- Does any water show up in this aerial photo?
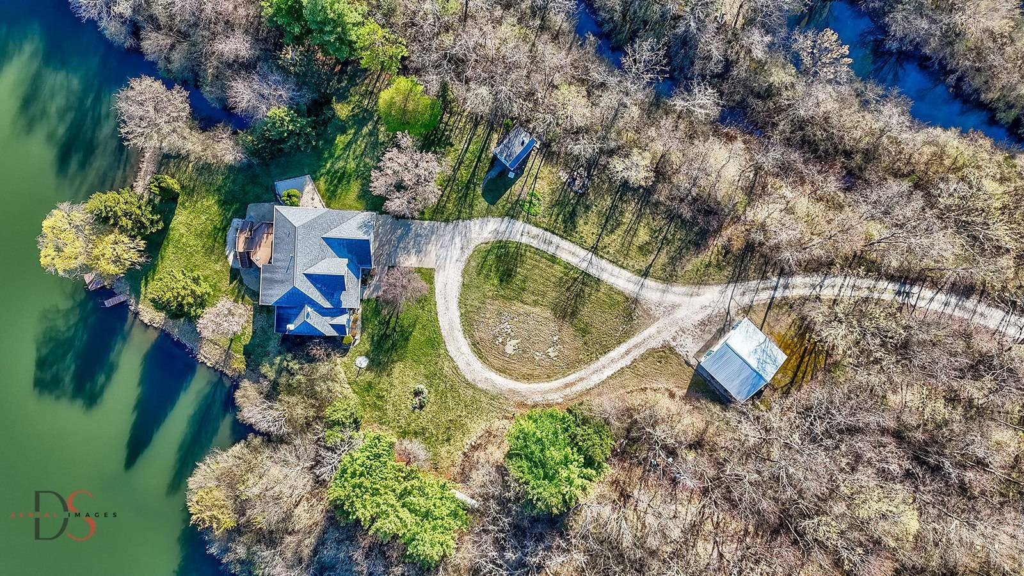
Yes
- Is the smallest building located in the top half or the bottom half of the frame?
top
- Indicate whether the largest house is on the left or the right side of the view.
left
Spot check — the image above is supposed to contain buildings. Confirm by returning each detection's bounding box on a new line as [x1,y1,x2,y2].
[493,125,538,171]
[697,317,788,404]
[259,206,378,336]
